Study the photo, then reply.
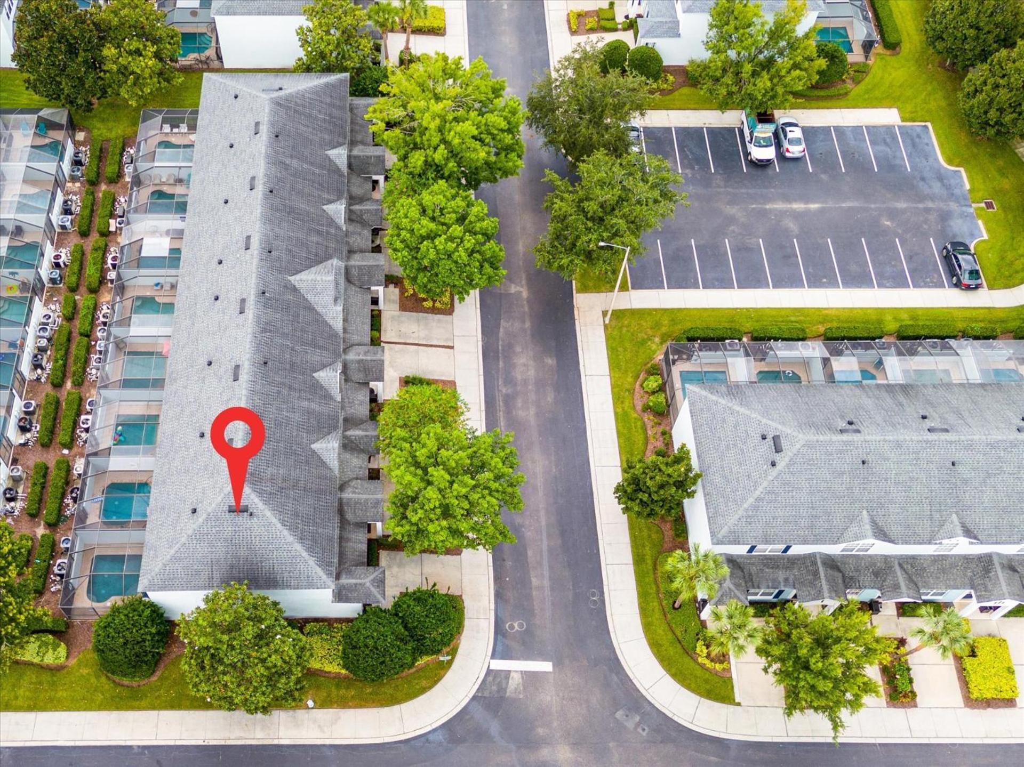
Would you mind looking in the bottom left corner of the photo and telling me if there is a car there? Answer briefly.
No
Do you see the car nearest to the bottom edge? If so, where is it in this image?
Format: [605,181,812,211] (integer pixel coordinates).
[941,240,980,291]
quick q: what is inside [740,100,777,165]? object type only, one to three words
truck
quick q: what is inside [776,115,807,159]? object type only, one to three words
car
